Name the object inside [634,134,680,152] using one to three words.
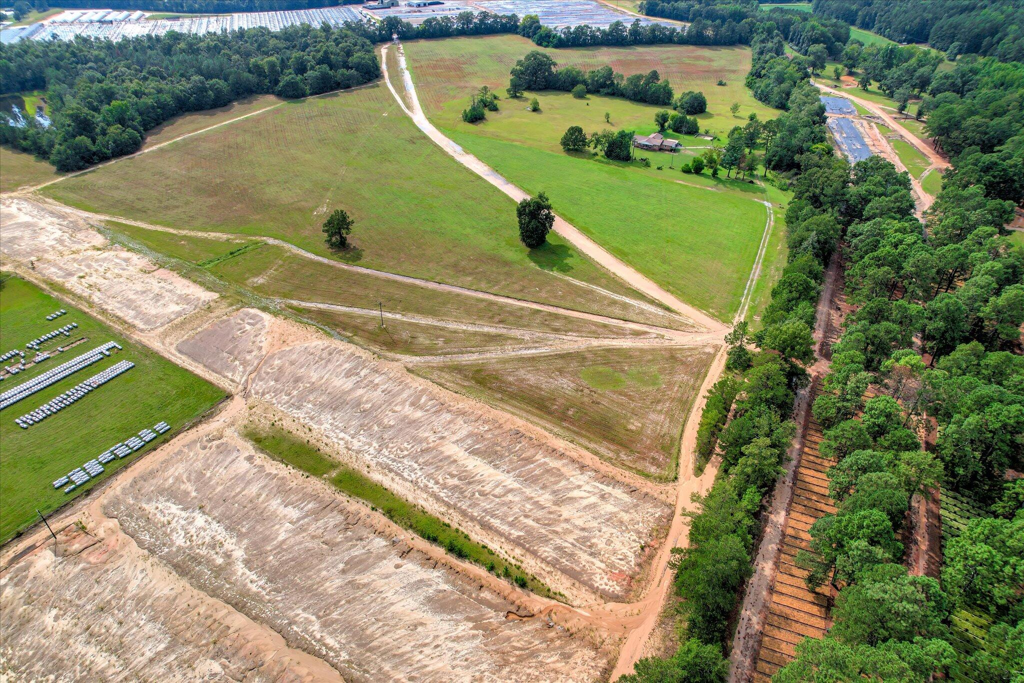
house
